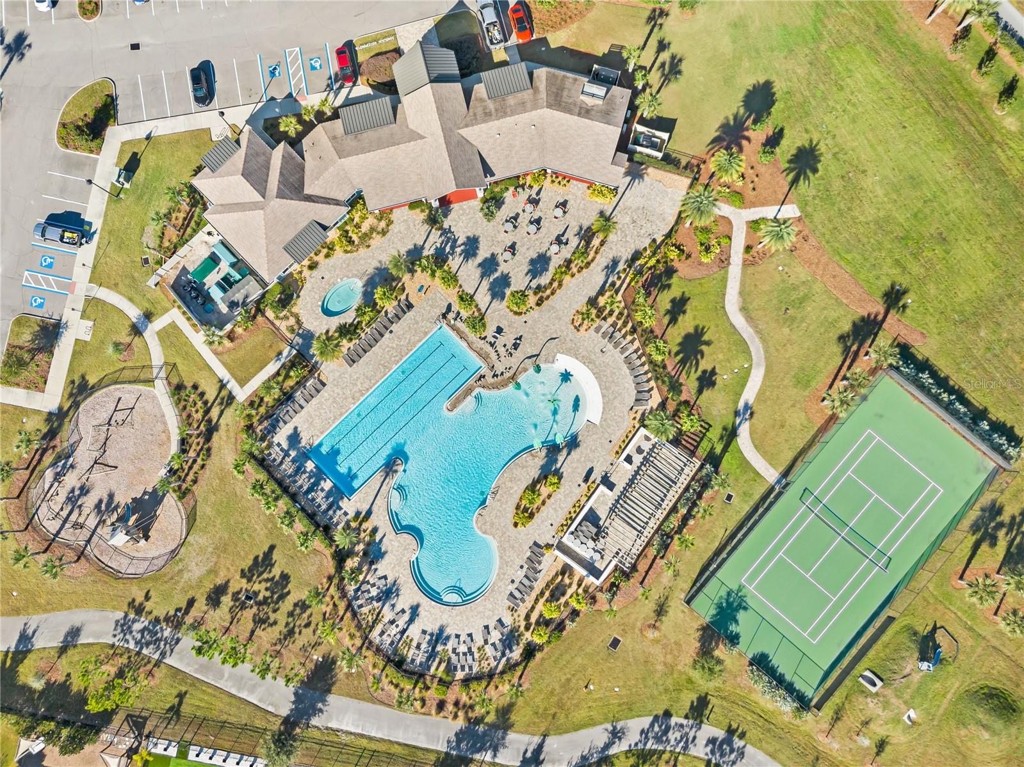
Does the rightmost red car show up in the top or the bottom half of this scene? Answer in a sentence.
The rightmost red car is in the top half of the image.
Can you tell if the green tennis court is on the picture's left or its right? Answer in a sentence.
It is on the right.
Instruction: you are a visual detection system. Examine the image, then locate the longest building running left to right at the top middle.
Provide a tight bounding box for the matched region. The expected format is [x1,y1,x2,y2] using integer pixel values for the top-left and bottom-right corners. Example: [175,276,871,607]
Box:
[191,42,631,285]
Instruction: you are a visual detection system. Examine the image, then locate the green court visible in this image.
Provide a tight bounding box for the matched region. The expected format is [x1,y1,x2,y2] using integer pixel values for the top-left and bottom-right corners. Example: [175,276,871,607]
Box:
[687,373,996,705]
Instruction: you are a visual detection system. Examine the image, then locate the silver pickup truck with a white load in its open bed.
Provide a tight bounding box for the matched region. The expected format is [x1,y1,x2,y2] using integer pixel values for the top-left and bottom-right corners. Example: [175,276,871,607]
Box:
[478,0,505,49]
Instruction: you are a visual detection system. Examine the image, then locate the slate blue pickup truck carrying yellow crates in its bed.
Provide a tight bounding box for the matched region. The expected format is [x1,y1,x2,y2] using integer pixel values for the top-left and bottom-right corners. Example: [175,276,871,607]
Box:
[33,222,84,246]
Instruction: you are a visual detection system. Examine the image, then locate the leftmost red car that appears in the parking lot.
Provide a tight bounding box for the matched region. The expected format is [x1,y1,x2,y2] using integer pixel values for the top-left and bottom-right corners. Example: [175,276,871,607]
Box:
[334,46,355,85]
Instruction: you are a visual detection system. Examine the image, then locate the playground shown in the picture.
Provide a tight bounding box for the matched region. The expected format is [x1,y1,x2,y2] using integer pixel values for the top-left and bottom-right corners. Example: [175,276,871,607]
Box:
[33,385,186,575]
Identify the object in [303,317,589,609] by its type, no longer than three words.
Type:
swimming pool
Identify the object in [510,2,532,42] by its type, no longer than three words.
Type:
car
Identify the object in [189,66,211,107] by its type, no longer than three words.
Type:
car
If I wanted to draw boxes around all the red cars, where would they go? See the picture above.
[510,2,532,42]
[334,46,355,85]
